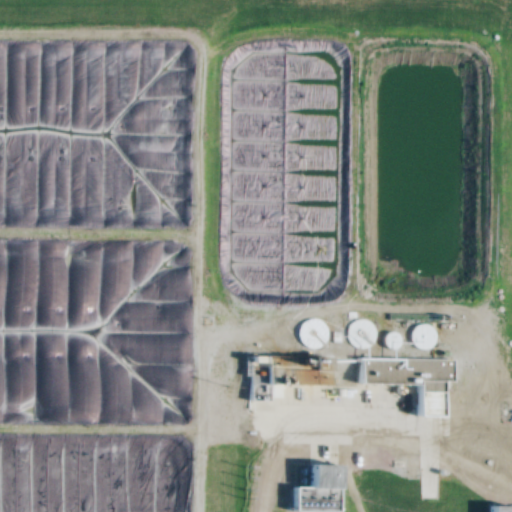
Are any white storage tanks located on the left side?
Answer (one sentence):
No, I see no white storage tank on the left side.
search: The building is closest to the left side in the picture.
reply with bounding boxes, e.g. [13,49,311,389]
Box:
[246,356,273,400]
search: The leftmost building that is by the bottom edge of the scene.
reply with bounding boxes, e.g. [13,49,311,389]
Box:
[290,464,348,512]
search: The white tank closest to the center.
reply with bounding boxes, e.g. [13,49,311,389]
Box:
[298,318,330,350]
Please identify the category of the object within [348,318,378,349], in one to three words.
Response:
storage tank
